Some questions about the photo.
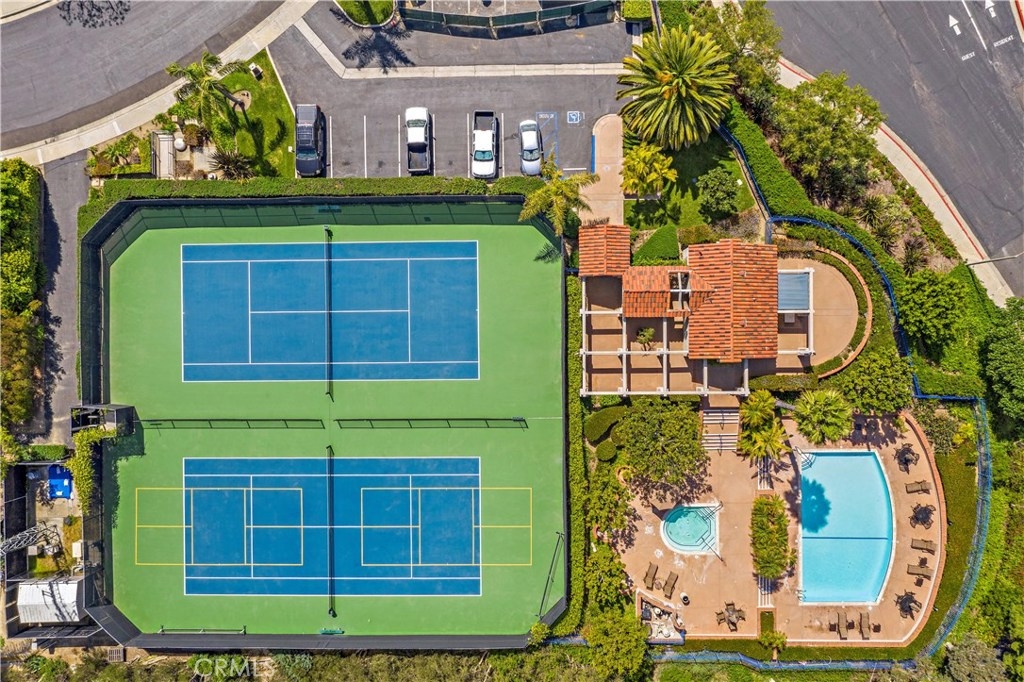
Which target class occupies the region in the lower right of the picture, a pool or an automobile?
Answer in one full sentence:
Visible in the lower right of the picture is a pool.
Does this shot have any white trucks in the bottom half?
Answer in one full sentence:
No, there's no white truck to be seen in the bottom half.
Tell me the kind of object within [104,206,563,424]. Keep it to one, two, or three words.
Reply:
tennis court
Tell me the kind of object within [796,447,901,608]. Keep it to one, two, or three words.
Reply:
swimming pool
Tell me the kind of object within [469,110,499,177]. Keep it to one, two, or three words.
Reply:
truck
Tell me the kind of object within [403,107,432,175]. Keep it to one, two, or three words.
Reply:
truck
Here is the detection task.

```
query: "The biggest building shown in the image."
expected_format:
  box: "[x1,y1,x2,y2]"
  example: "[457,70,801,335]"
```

[578,224,815,397]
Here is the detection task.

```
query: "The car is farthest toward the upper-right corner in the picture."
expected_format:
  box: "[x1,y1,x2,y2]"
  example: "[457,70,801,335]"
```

[518,120,545,177]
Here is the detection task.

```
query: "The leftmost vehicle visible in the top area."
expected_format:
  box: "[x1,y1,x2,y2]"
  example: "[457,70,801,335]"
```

[292,105,324,178]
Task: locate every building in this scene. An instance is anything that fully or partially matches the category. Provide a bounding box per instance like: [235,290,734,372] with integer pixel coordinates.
[14,576,86,622]
[578,224,815,397]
